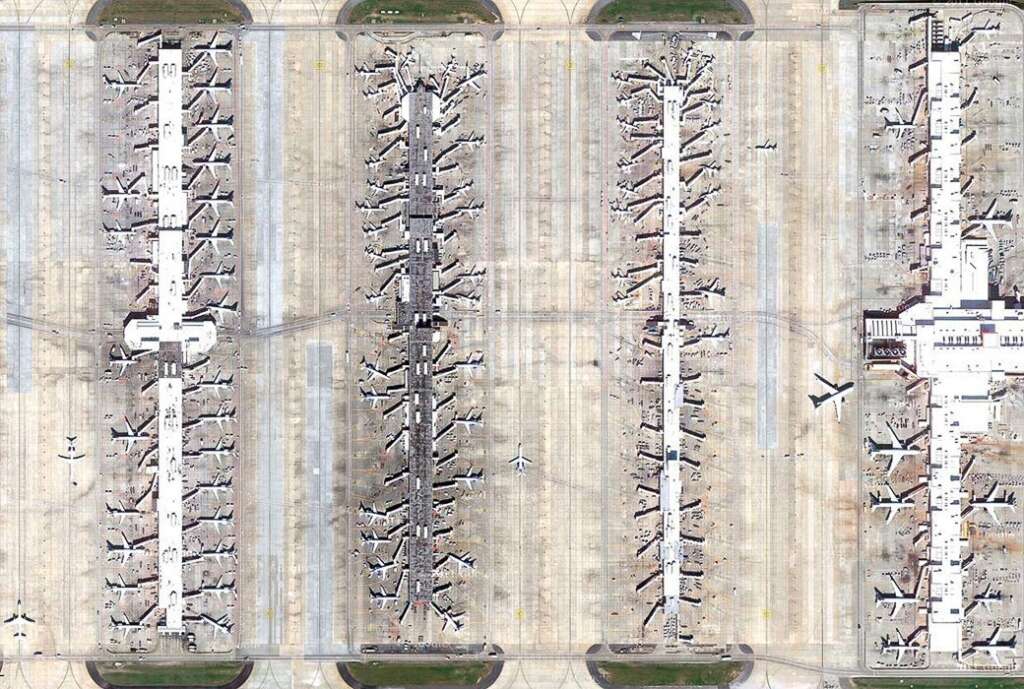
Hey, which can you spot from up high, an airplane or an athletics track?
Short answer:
airplane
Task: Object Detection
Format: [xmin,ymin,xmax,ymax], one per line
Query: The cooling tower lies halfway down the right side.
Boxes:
[866,339,908,361]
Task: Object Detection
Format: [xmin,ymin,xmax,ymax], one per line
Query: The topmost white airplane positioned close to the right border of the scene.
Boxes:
[972,20,1000,41]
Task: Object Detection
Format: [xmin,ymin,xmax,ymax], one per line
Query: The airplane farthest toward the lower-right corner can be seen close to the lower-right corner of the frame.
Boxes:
[972,628,1017,667]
